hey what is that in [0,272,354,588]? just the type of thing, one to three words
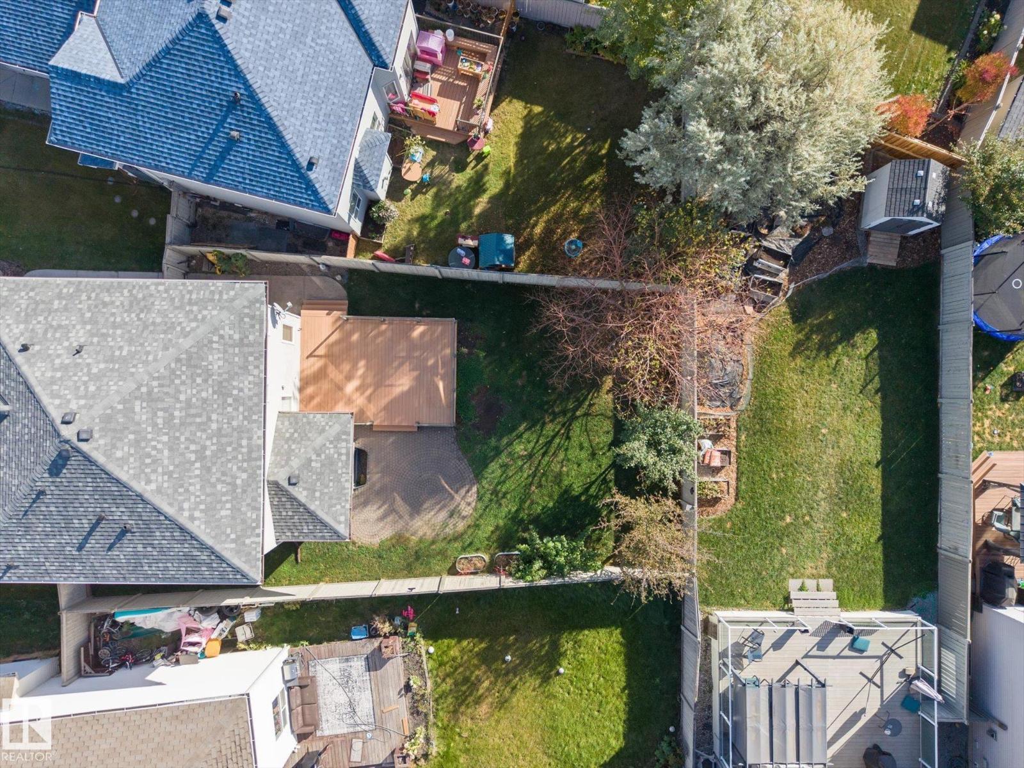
house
